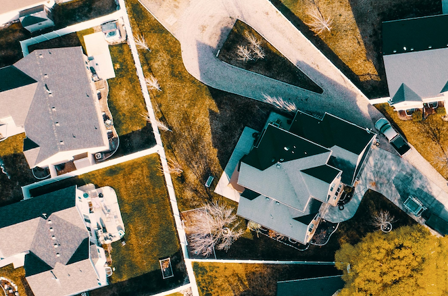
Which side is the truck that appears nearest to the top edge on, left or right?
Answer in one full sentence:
The truck that appears nearest to the top edge appears in the right half of the scene.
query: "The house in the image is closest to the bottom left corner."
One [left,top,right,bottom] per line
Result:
[0,185,114,296]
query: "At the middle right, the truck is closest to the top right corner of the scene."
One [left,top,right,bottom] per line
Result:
[374,119,413,158]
